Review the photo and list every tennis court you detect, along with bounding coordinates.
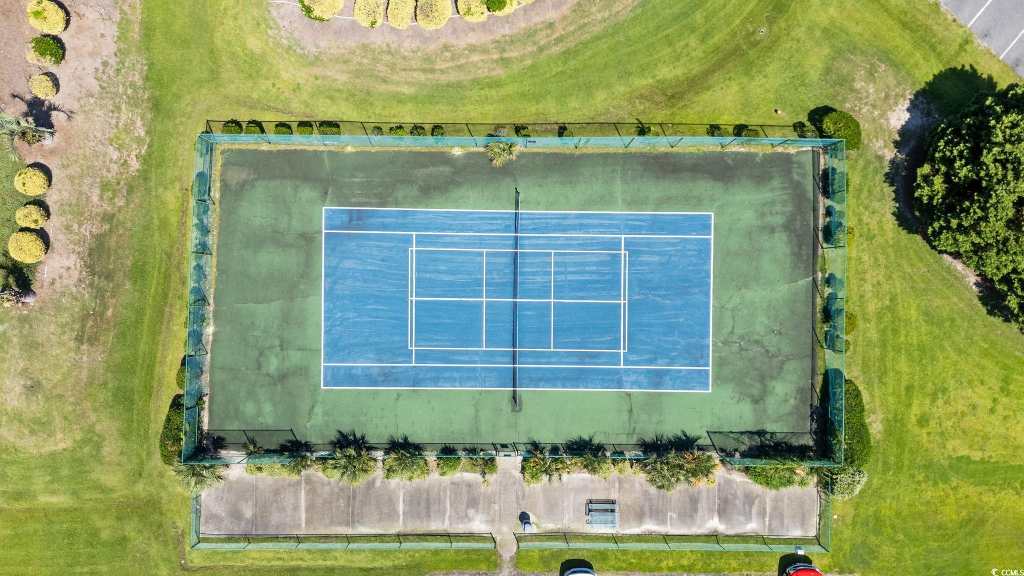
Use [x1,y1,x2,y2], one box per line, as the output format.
[206,148,819,453]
